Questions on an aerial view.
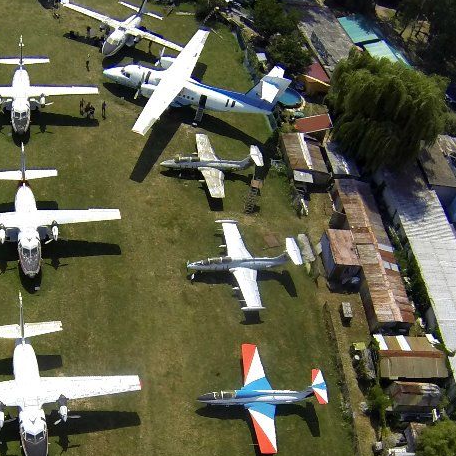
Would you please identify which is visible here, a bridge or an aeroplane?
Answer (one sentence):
This aerial view contains an aeroplane.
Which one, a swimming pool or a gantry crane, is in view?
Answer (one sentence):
The image shows a swimming pool.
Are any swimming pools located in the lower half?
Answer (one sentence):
No, in the lower half there is no swimming pool.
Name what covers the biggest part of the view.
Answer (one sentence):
The largest share of the image is taken up by grass.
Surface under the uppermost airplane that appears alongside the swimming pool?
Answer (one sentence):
The uppermost airplane that appears alongside the swimming pool rests on the grass.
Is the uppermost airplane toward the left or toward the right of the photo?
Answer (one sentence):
It is on the left.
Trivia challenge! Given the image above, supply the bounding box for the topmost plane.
[60,0,187,59]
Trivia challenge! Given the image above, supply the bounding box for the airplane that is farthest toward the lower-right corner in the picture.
[197,345,330,454]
